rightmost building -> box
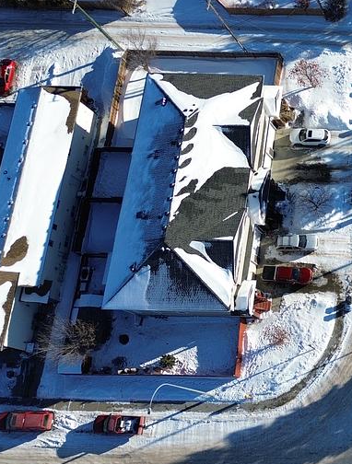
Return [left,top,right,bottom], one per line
[105,74,289,317]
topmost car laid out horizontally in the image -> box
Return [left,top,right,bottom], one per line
[290,129,332,149]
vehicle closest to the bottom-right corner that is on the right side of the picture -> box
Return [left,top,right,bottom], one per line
[260,264,315,286]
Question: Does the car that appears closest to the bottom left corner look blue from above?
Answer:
No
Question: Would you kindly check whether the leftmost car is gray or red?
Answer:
red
